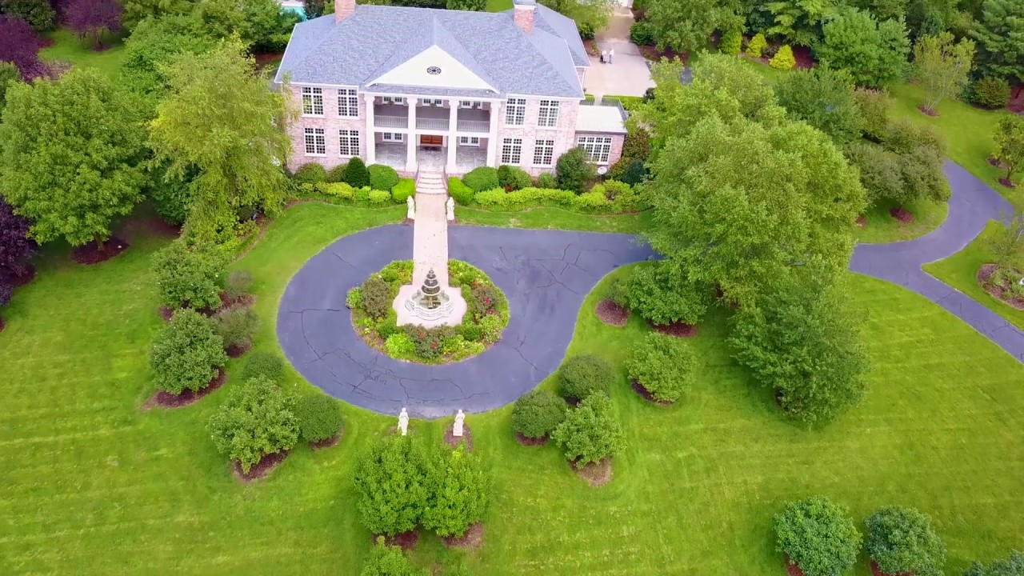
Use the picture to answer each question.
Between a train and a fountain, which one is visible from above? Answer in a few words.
fountain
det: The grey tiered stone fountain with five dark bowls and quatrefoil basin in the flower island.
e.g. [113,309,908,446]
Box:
[404,267,456,323]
